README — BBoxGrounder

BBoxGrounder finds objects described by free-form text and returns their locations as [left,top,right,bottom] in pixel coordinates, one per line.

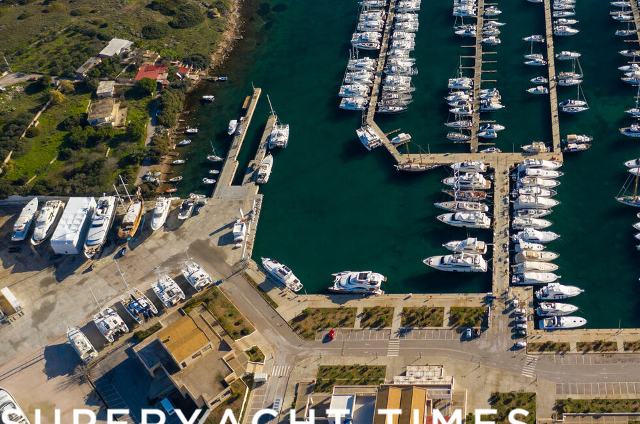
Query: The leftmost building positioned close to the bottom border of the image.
[132,303,252,411]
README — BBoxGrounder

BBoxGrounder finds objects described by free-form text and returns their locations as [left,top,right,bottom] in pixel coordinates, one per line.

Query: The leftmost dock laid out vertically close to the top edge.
[366,0,397,121]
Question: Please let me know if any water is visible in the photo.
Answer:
Yes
